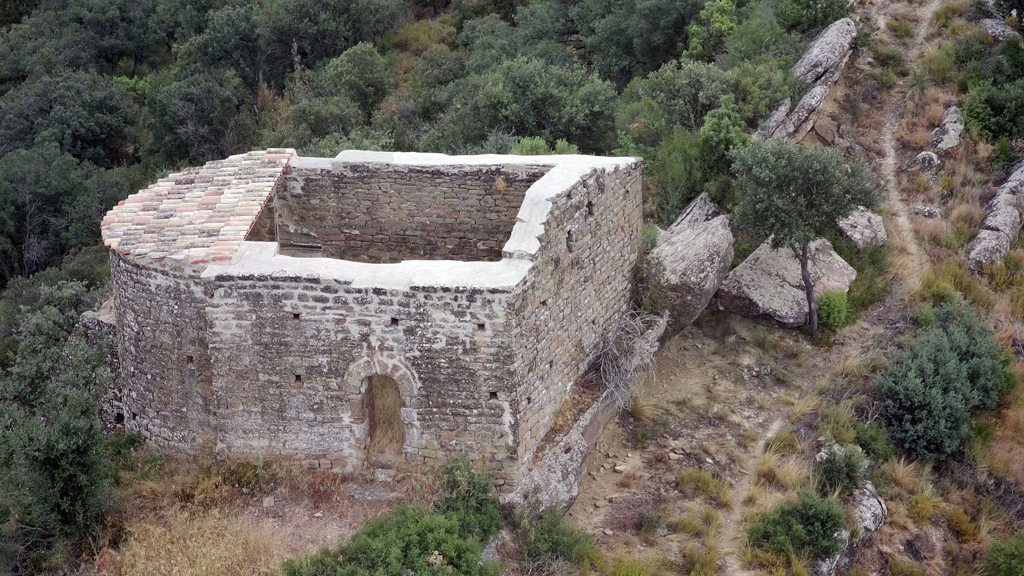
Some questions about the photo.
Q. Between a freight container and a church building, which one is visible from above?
church building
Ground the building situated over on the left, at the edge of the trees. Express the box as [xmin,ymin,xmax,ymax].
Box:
[99,152,641,494]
